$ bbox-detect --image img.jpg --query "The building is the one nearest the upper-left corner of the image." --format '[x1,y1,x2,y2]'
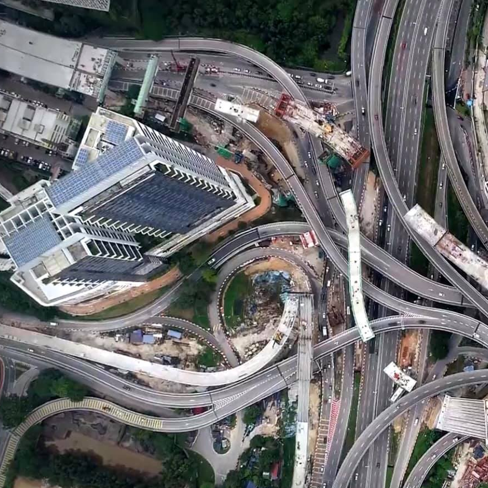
[0,0,61,20]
